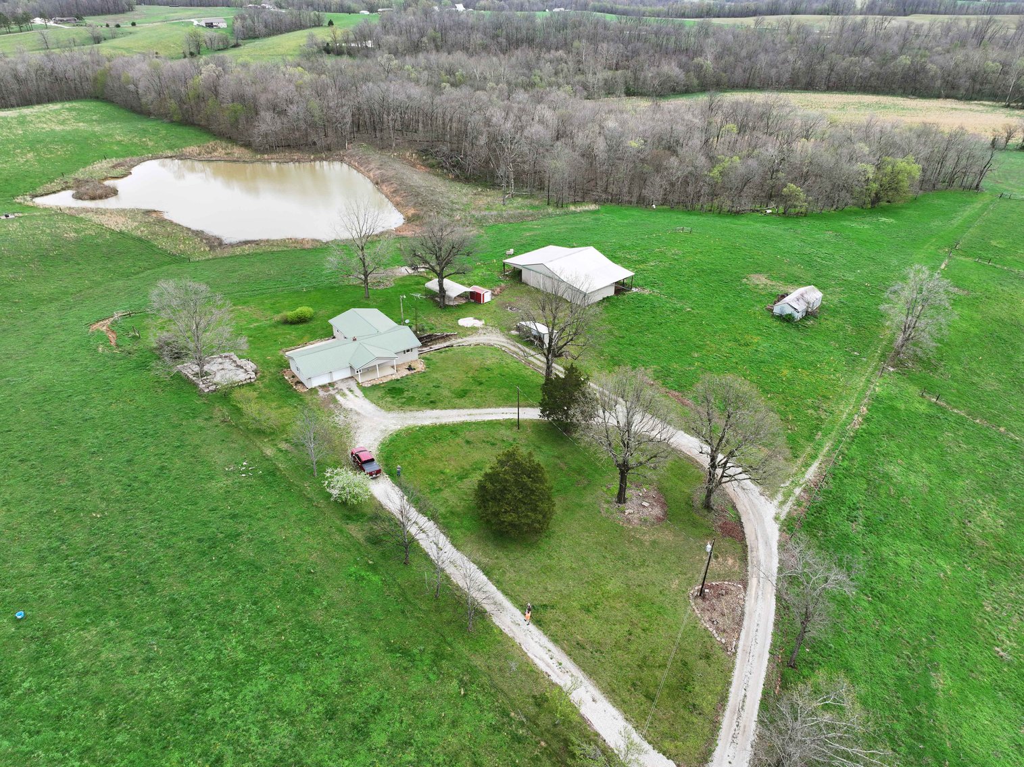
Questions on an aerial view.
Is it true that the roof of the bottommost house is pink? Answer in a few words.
No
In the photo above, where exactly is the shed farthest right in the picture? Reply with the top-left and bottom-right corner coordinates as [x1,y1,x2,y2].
[775,285,822,321]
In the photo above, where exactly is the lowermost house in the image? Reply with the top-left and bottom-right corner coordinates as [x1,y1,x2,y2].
[288,310,421,389]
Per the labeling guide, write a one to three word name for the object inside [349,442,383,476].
truck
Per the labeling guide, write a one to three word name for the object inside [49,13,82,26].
house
